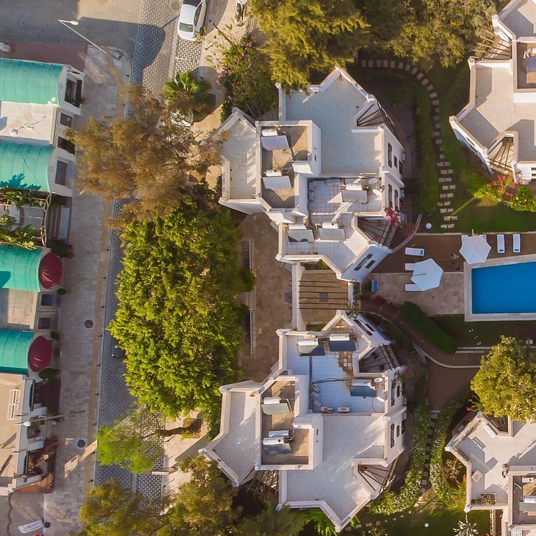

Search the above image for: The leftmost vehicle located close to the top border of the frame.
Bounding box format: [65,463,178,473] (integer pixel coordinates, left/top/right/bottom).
[172,0,204,38]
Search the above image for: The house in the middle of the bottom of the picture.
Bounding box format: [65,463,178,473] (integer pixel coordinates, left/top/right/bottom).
[196,309,415,535]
